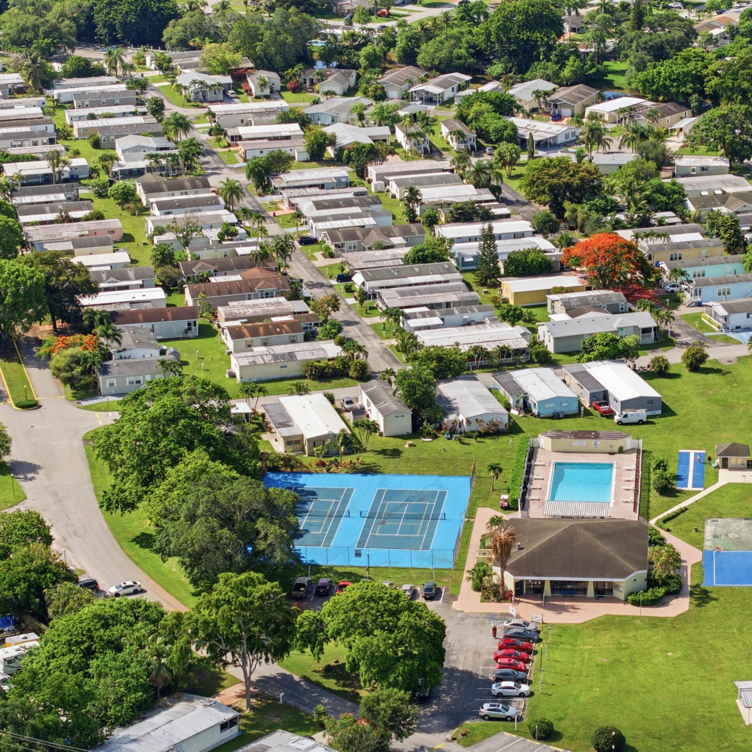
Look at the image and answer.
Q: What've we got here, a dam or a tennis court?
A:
tennis court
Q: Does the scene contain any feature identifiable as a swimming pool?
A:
Yes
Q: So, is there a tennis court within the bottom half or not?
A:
Yes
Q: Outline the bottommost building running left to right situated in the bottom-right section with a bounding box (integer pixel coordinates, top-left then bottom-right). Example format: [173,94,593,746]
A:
[479,519,649,598]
